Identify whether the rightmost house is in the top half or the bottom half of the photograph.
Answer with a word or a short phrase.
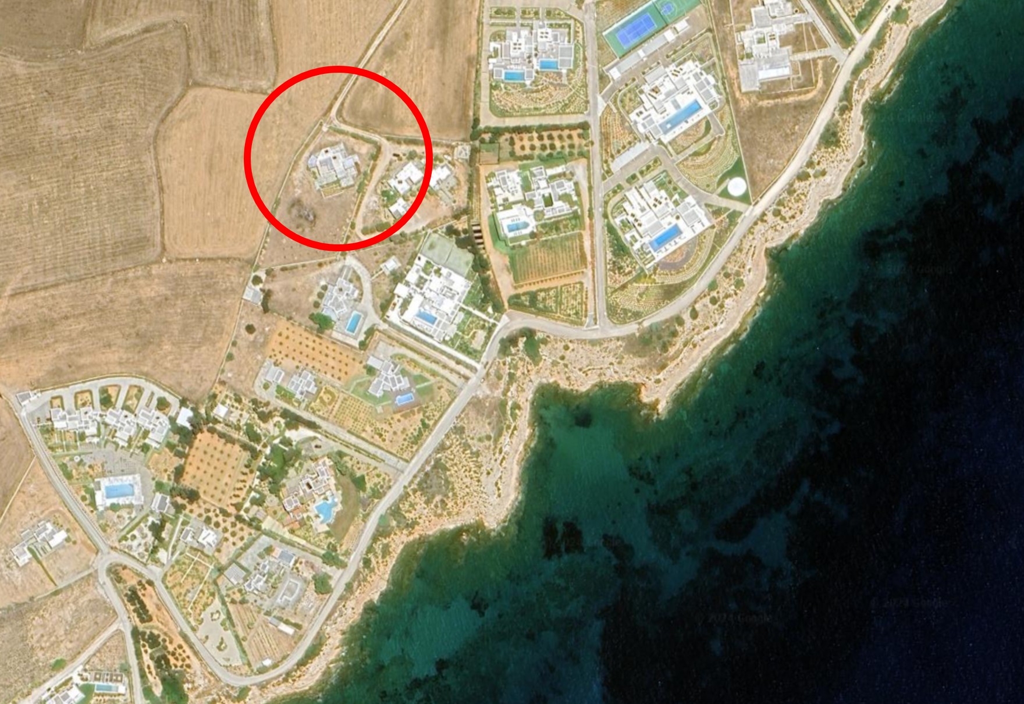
top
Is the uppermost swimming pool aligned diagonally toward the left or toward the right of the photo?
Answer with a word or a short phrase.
right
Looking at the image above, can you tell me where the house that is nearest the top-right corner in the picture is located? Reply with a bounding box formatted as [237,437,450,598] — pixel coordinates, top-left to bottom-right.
[736,0,802,92]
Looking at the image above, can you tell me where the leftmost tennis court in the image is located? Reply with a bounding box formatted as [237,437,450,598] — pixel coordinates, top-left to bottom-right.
[602,0,667,59]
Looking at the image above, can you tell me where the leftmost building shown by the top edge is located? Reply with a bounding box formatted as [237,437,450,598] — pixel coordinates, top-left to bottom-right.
[489,27,534,84]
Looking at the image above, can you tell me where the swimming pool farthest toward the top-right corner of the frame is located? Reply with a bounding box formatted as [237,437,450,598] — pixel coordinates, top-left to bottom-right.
[658,99,703,135]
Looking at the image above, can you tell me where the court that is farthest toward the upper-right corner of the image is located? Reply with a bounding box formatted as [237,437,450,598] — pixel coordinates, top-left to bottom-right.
[653,0,702,25]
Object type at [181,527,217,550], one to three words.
house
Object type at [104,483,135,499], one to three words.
swimming pool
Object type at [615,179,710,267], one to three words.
house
